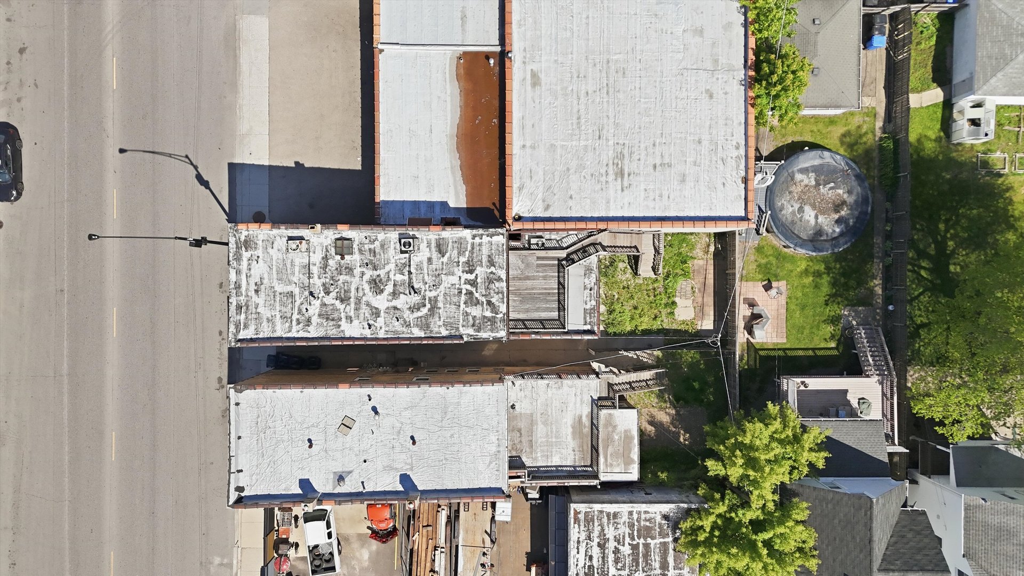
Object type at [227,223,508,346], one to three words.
building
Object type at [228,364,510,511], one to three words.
building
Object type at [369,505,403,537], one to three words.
work vehicle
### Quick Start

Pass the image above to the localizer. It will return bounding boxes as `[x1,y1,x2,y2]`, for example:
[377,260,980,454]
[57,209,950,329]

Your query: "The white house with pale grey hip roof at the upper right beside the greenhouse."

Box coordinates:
[952,0,1024,104]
